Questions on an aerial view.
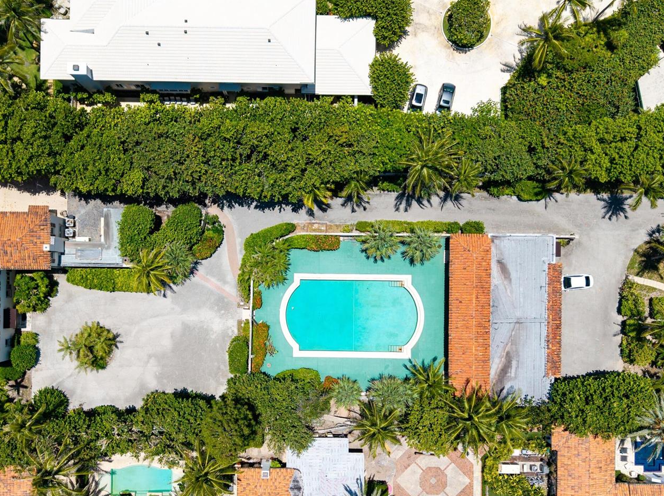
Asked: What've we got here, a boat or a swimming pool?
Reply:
swimming pool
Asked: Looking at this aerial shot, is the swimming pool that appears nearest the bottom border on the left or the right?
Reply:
left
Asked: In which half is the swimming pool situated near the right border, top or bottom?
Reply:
bottom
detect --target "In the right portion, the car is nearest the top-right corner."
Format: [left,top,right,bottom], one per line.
[436,81,454,111]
